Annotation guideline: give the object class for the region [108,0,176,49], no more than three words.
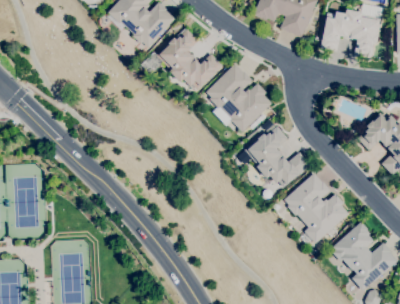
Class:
house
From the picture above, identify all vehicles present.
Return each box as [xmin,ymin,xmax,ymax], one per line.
[73,150,83,160]
[138,228,148,239]
[170,274,180,285]
[221,29,233,40]
[204,17,214,26]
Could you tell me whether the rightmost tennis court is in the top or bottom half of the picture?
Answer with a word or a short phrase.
bottom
